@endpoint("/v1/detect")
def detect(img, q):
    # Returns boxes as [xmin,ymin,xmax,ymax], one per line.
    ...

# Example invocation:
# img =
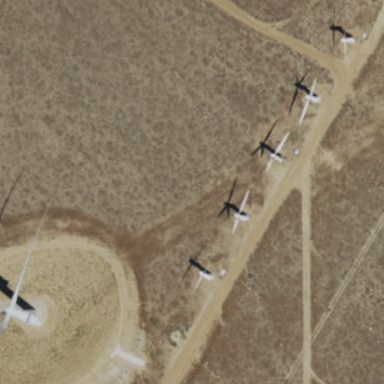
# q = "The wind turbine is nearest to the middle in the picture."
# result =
[230,190,252,234]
